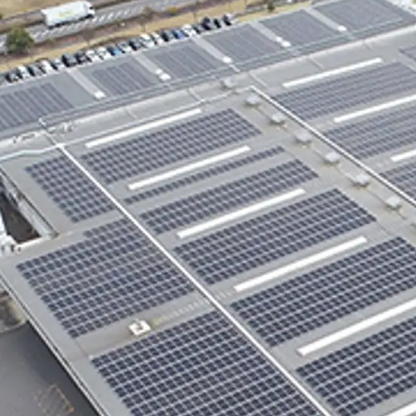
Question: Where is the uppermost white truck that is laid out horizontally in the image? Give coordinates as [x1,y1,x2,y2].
[41,0,98,27]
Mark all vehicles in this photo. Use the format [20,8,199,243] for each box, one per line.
[83,45,100,60]
[198,15,214,29]
[27,61,43,75]
[189,20,204,32]
[50,55,64,68]
[219,12,234,25]
[127,35,143,48]
[39,57,54,71]
[15,62,32,79]
[116,40,131,52]
[41,0,98,27]
[149,29,163,42]
[159,28,175,40]
[209,14,224,27]
[61,50,77,66]
[2,66,20,82]
[178,20,195,35]
[74,52,89,63]
[169,25,184,36]
[138,30,155,46]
